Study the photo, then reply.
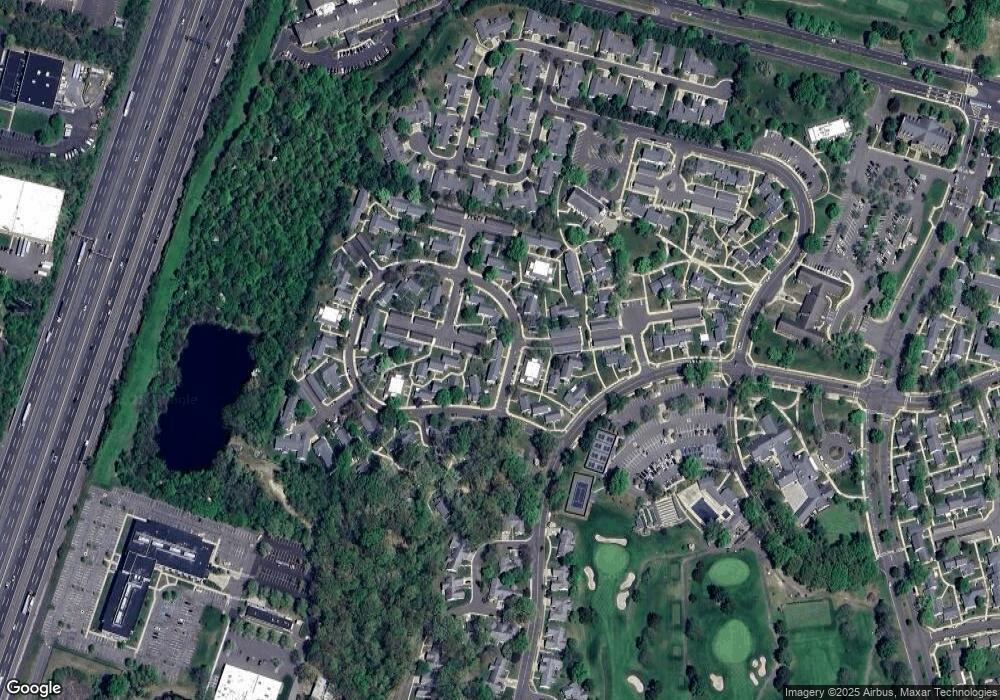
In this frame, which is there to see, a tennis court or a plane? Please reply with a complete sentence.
I can see a tennis court in this picture.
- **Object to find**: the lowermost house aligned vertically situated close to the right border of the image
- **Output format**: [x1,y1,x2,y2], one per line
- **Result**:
[948,648,964,684]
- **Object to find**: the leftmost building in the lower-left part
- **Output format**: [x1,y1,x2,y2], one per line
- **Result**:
[103,519,215,639]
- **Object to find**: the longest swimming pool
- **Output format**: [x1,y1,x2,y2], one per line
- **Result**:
[678,482,721,523]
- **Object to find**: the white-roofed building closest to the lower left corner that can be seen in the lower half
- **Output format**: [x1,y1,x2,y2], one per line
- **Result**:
[214,664,283,700]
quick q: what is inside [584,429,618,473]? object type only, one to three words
sports court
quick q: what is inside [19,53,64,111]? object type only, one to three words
building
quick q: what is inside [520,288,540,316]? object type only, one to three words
house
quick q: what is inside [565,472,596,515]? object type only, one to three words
tennis court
